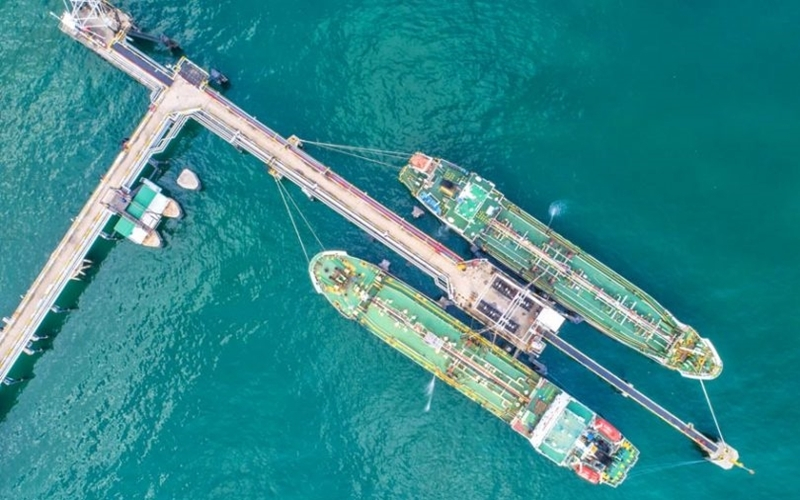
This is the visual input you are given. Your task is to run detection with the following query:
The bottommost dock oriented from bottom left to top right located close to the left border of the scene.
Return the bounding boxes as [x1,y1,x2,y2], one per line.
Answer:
[0,116,175,384]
